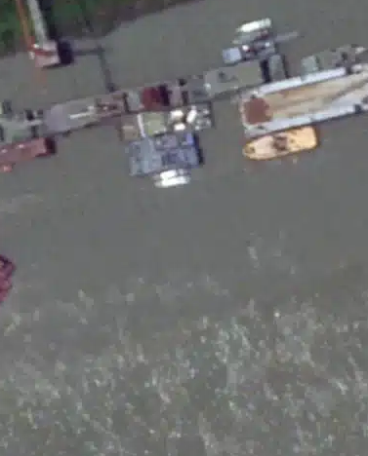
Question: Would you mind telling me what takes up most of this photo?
water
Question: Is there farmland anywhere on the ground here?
No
